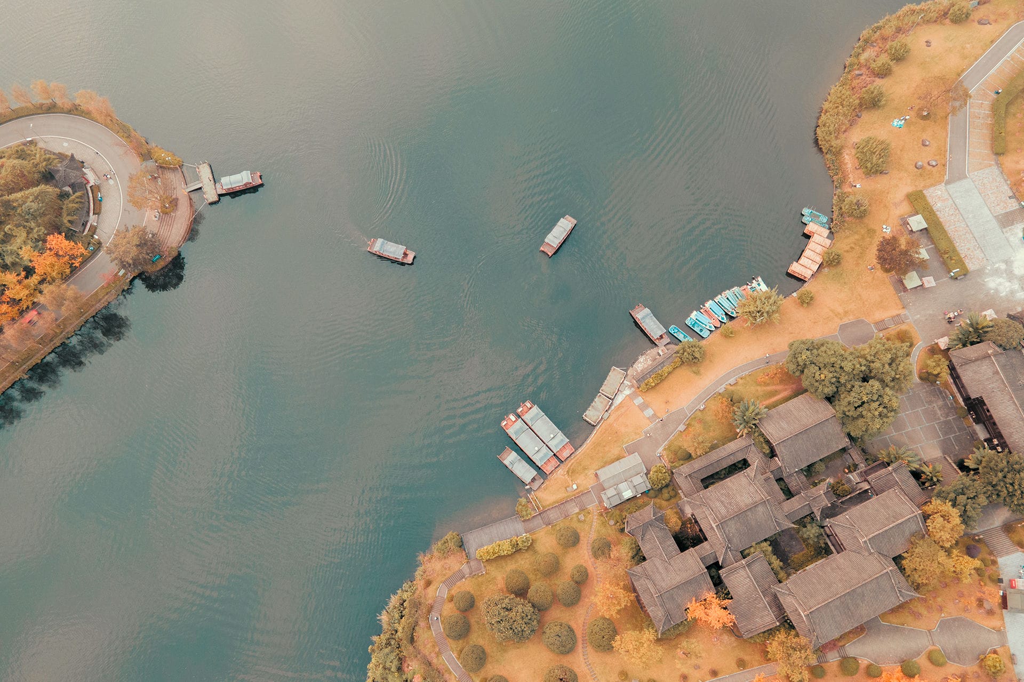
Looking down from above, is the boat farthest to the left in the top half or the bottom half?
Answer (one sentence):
It is in the top half that the boat farthest to the left appears.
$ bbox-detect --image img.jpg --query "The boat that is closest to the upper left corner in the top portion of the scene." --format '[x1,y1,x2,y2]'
[215,168,262,192]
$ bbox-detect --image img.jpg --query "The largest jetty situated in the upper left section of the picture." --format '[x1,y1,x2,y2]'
[195,160,219,205]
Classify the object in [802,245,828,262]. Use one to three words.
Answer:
boat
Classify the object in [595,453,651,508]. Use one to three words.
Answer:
house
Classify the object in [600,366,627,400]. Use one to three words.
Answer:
pier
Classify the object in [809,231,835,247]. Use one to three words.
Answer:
boat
